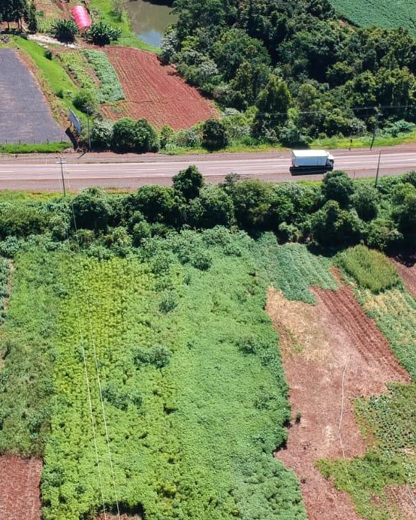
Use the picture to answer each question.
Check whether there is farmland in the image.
Yes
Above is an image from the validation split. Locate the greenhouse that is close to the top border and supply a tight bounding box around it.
[71,3,93,31]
